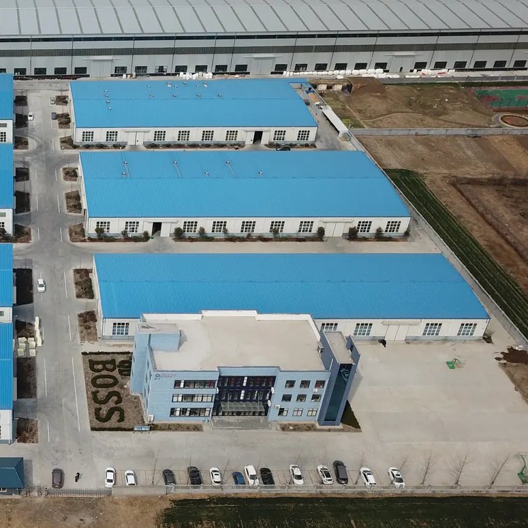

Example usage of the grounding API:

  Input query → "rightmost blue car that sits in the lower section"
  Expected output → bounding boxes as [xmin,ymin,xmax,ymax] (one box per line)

[231,469,245,486]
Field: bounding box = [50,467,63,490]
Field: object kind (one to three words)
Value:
vehicle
